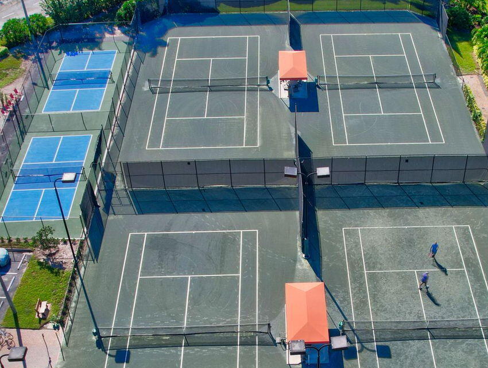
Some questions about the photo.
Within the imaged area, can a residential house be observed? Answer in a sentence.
No, this view has no residential house in it.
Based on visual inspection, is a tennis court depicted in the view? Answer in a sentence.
Yes, looking at the shot, I can spot a tennis court.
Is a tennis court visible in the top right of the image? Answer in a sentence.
Yes, a tennis court can be seen in the top right of the image.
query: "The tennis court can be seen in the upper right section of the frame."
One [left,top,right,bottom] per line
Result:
[288,9,488,186]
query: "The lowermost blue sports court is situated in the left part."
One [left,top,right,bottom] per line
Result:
[0,123,114,237]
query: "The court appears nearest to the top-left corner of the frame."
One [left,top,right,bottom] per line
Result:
[26,47,134,124]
